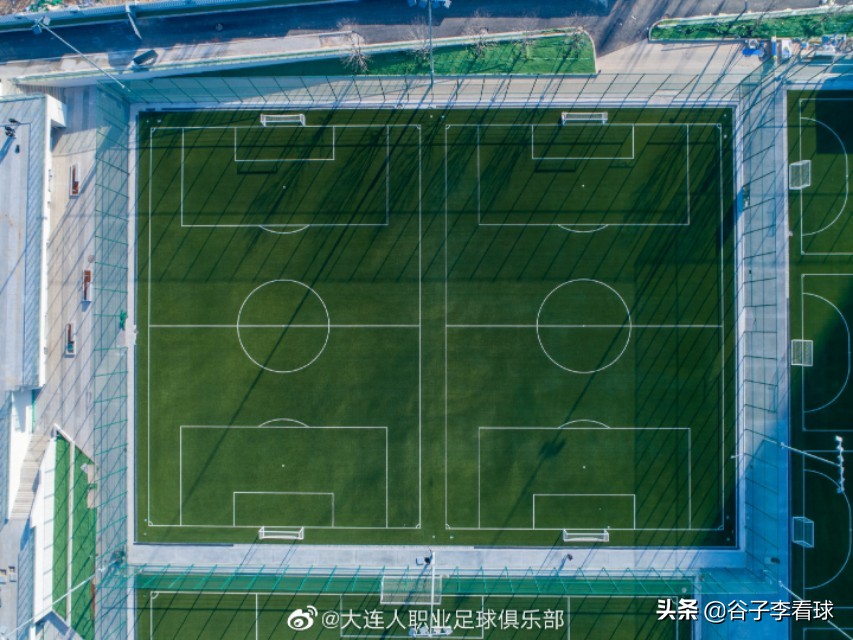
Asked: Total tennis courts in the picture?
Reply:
0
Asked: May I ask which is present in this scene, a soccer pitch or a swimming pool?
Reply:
soccer pitch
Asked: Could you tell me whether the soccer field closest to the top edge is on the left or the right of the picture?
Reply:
right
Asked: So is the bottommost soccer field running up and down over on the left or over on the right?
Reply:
right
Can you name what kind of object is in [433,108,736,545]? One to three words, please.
soccer field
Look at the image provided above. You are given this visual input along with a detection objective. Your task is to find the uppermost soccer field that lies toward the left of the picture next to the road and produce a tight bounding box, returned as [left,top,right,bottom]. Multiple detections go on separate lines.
[135,110,433,542]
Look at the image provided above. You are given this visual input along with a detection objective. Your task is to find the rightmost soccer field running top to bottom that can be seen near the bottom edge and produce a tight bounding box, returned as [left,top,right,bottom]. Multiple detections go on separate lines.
[790,441,853,618]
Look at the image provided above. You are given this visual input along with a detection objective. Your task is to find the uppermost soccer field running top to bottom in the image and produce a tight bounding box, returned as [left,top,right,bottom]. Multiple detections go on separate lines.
[788,88,853,264]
